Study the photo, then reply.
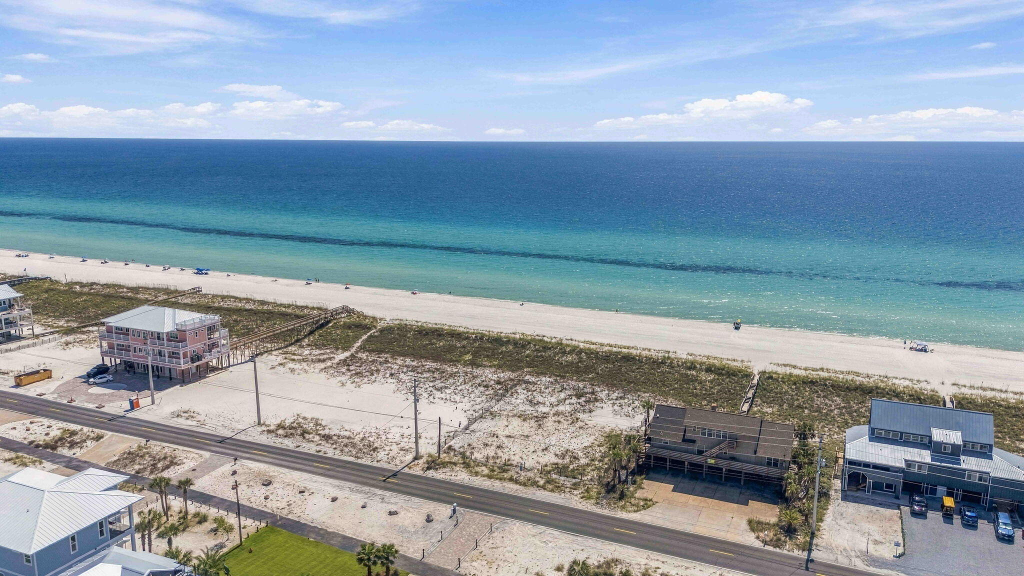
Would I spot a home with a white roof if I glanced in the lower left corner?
Yes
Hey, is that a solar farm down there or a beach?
beach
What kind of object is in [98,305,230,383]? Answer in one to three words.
house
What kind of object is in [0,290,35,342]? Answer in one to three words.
house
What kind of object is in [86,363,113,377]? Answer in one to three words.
car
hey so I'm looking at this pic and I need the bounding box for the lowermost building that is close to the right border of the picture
[841,397,1024,510]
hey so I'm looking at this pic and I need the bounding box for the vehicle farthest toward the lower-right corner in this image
[984,510,1016,541]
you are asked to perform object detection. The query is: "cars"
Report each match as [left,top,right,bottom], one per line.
[88,374,115,384]
[734,322,743,331]
[984,510,1016,541]
[908,488,930,515]
[86,363,113,377]
[956,498,980,525]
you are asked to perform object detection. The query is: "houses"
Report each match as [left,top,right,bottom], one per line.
[841,397,1024,510]
[98,305,230,383]
[0,290,35,342]
[0,466,144,576]
[635,401,796,491]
